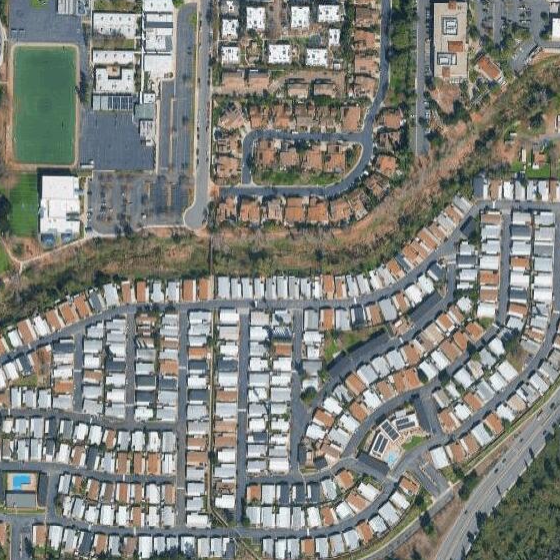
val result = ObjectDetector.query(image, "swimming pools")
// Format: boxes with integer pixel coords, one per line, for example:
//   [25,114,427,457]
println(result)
[13,474,31,490]
[387,450,398,463]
